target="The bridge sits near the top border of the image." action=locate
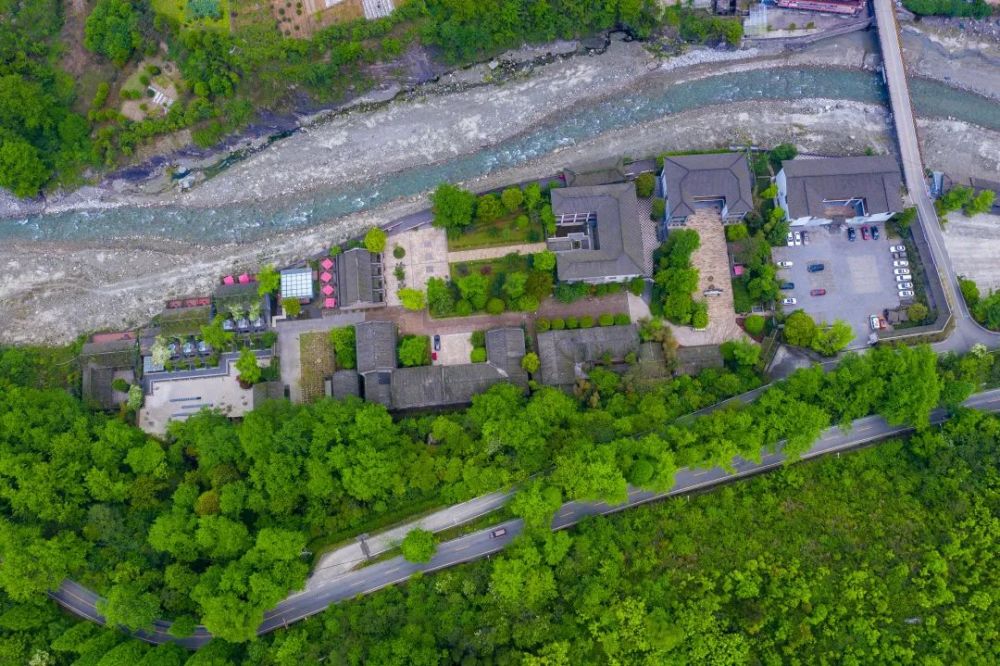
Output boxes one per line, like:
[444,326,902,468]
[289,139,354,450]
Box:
[870,0,932,193]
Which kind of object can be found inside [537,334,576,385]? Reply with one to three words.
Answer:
house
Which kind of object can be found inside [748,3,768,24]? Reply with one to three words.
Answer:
greenhouse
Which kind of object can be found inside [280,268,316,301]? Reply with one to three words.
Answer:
building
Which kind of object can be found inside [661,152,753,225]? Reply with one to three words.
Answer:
house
